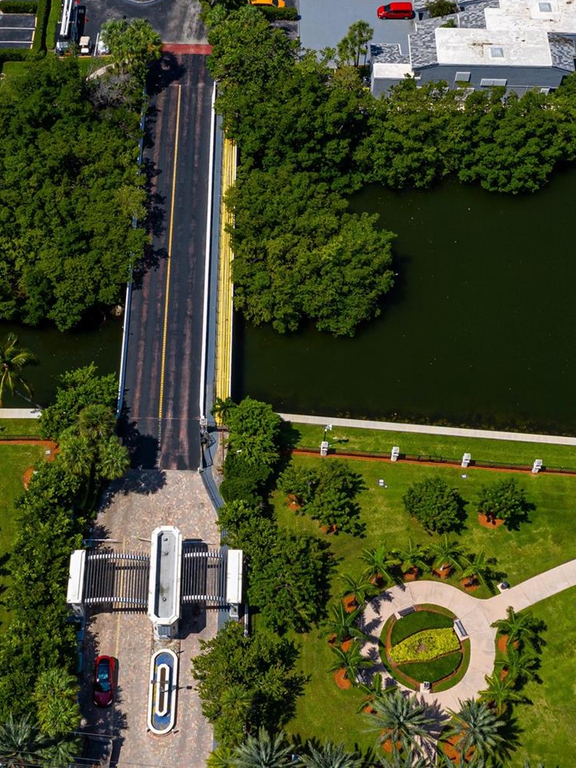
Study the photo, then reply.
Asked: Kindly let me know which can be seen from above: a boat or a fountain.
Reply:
fountain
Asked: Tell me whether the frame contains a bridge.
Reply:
Yes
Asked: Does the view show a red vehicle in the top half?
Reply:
Yes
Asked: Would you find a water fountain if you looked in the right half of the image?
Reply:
No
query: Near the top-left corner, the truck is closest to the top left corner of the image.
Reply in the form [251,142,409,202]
[55,0,80,45]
